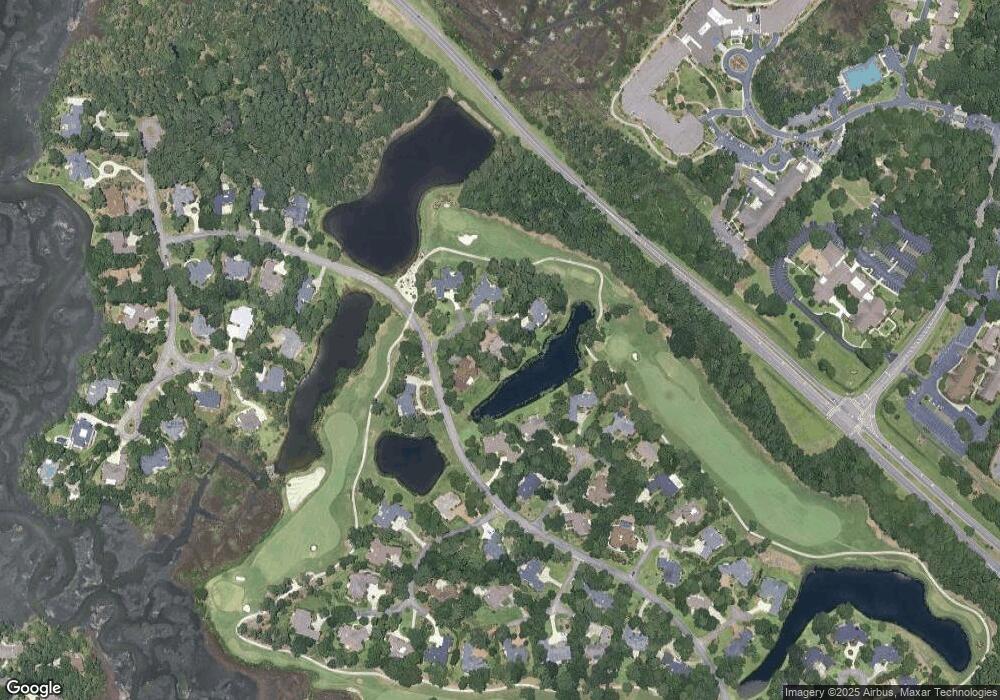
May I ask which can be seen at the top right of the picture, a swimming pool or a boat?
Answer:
swimming pool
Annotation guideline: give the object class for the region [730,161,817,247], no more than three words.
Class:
building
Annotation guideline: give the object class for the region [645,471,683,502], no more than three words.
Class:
house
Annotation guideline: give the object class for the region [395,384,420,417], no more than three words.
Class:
house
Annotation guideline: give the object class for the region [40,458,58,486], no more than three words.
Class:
swimming pool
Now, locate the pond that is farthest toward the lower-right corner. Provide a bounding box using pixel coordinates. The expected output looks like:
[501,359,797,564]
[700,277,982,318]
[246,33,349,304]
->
[741,567,972,685]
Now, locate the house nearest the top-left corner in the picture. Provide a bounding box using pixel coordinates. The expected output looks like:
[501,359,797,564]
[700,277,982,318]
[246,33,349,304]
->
[58,100,89,137]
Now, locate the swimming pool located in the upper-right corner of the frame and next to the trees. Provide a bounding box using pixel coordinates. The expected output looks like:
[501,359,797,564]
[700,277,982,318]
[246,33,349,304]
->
[840,55,886,95]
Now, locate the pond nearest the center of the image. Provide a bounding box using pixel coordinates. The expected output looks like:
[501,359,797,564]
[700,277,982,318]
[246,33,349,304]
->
[473,303,594,419]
